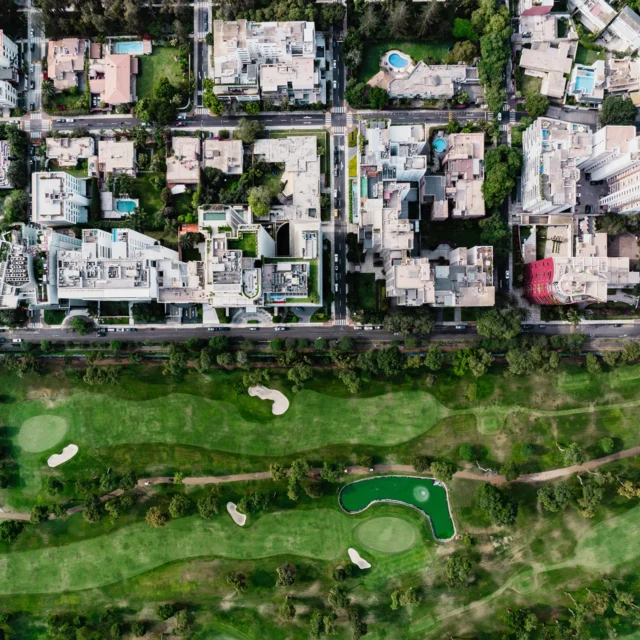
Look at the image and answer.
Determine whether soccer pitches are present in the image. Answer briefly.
No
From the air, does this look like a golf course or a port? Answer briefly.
golf course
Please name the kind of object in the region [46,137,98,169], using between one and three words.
house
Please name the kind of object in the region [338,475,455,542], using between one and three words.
pond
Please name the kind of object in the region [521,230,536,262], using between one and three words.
house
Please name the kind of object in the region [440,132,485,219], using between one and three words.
building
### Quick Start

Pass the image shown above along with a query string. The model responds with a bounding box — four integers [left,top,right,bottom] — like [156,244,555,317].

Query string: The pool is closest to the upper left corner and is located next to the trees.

[116,40,144,53]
